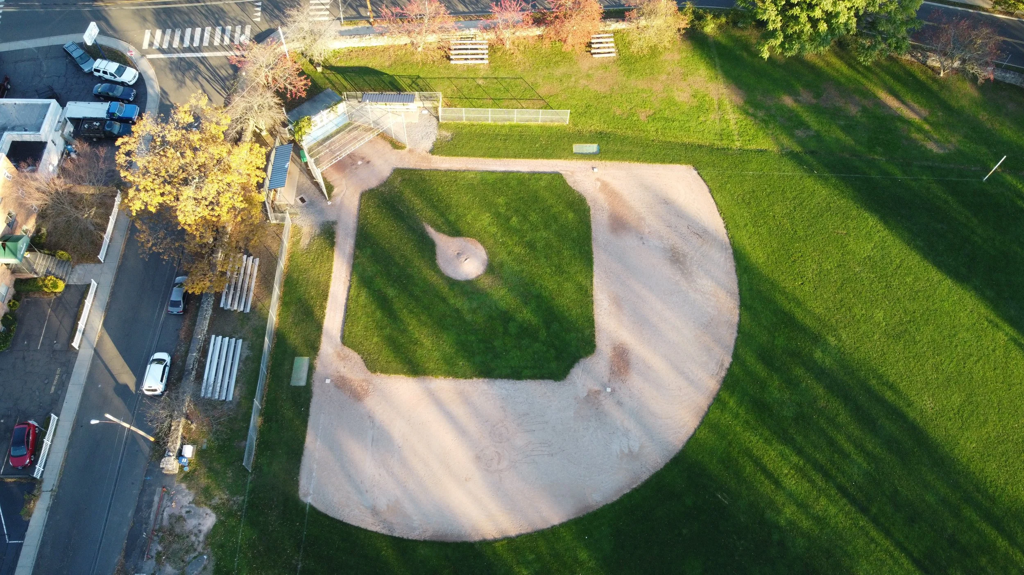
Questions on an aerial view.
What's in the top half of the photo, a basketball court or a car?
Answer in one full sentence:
You can see a car in the top half of the photo.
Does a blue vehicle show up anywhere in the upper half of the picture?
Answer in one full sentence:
Yes, in the upper half of the picture there is a blue vehicle.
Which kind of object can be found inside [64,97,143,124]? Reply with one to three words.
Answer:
truck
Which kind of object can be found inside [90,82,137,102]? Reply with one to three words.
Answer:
car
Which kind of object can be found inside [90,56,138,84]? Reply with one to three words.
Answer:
car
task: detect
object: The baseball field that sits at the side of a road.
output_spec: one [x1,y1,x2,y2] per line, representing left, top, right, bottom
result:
[235,124,983,575]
